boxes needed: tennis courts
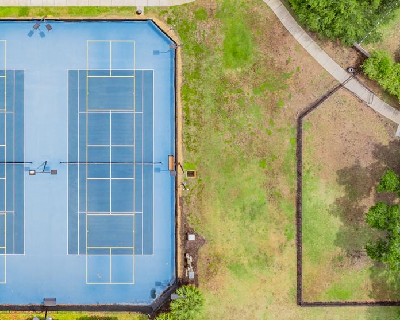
[0,40,25,284]
[68,40,154,284]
